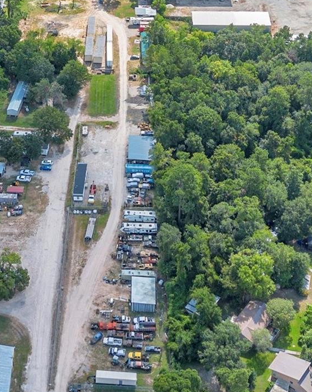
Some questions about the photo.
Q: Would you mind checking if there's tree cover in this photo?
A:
Yes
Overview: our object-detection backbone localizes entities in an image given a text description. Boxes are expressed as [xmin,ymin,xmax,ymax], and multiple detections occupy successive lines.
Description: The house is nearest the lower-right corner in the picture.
[268,349,312,392]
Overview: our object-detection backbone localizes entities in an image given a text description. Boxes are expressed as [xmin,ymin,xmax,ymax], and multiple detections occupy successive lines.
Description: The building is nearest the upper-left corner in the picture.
[7,79,27,118]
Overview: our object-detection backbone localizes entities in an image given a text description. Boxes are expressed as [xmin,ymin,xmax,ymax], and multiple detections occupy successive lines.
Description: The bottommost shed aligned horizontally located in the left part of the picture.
[95,370,137,384]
